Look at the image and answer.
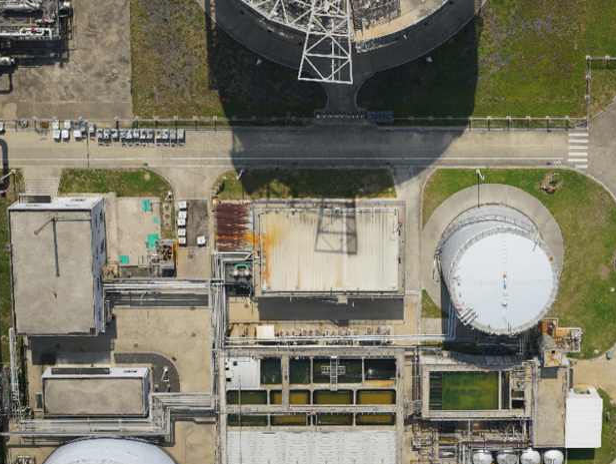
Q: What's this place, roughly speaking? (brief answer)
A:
industrial area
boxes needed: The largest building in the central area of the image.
[253,197,405,299]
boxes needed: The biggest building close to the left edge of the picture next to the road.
[9,192,113,336]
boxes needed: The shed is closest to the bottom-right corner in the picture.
[565,388,602,448]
